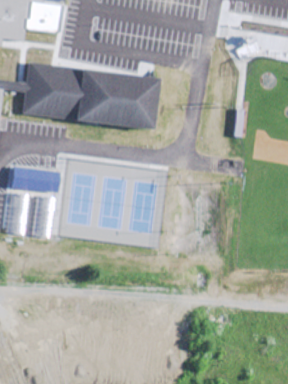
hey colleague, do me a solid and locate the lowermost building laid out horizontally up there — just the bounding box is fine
[12,168,60,192]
